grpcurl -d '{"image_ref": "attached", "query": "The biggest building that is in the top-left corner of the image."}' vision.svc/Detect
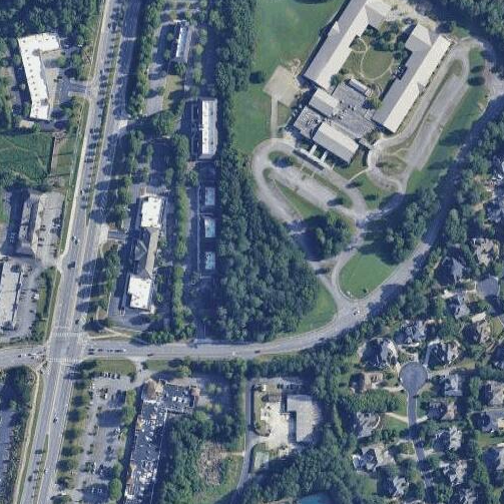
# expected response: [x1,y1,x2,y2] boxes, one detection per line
[18,32,60,120]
